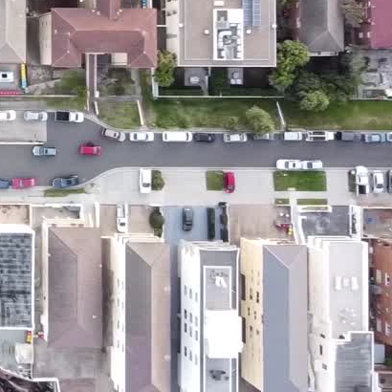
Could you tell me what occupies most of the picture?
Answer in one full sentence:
Most of the picture is covered by buildings.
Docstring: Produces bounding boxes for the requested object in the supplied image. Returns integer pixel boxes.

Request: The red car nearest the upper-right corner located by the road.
[222,170,235,192]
